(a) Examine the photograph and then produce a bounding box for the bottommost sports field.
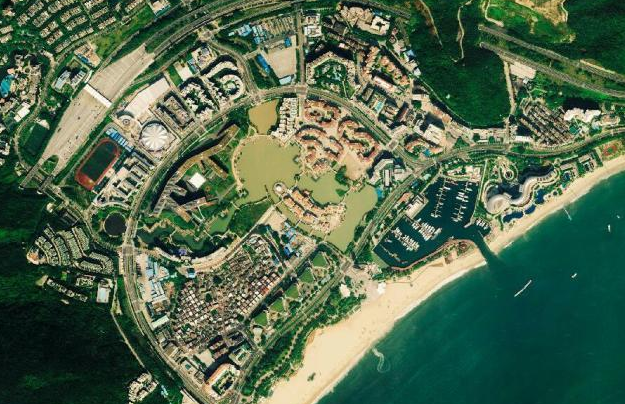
[79,145,115,184]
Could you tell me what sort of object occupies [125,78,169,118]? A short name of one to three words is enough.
building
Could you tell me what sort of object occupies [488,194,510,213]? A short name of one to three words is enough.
building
